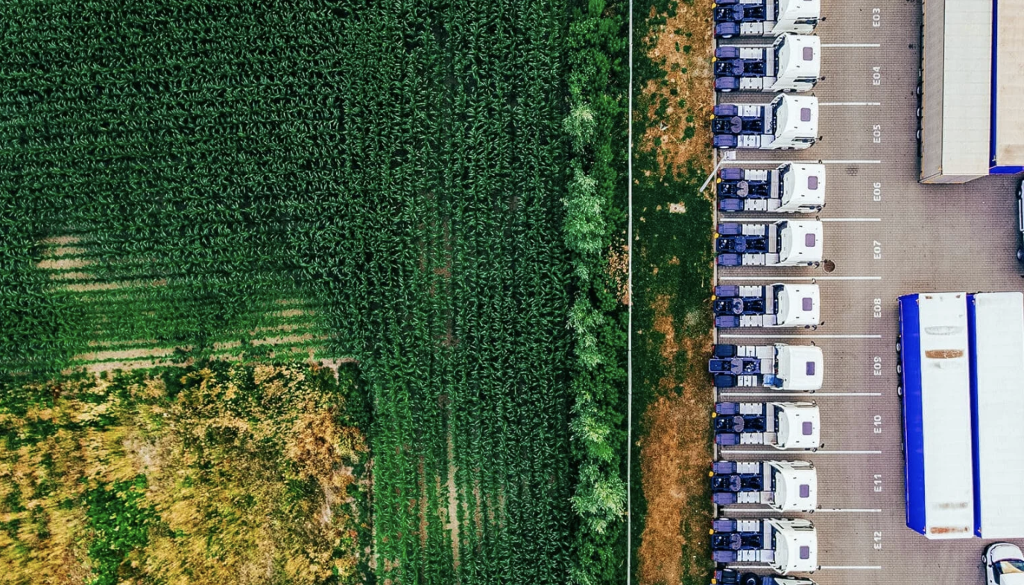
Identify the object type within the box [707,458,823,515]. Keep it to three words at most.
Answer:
truck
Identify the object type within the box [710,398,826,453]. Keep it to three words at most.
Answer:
truck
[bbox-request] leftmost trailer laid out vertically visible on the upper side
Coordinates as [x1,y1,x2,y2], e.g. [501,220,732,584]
[915,0,993,184]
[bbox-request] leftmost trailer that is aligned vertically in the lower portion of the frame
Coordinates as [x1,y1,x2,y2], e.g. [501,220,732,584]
[894,291,974,542]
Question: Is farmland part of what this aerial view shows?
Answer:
Yes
